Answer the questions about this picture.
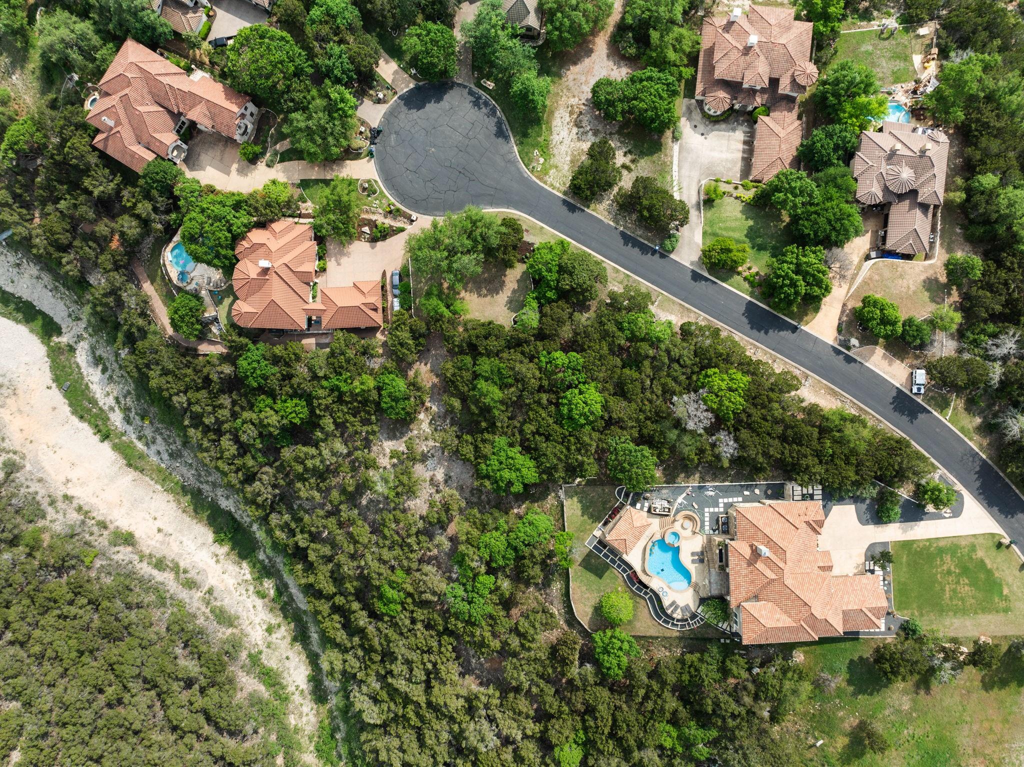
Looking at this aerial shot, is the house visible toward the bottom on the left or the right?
right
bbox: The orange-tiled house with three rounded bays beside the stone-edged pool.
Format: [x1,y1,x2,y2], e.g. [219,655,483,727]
[229,220,383,329]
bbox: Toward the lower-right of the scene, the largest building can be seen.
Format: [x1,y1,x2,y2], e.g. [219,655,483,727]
[723,499,888,645]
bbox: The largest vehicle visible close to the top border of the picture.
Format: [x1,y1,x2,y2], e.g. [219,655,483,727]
[210,33,236,49]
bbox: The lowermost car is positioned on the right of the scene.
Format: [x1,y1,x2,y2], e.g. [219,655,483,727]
[911,366,927,393]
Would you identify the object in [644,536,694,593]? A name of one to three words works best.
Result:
swimming pool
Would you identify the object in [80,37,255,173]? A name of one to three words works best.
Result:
house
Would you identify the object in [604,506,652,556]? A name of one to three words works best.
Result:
gazebo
